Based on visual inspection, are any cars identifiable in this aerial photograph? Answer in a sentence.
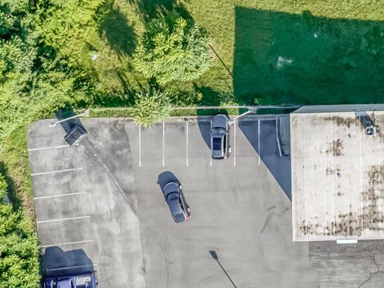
Yes, a car appears in the view.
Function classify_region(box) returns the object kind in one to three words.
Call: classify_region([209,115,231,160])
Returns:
car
